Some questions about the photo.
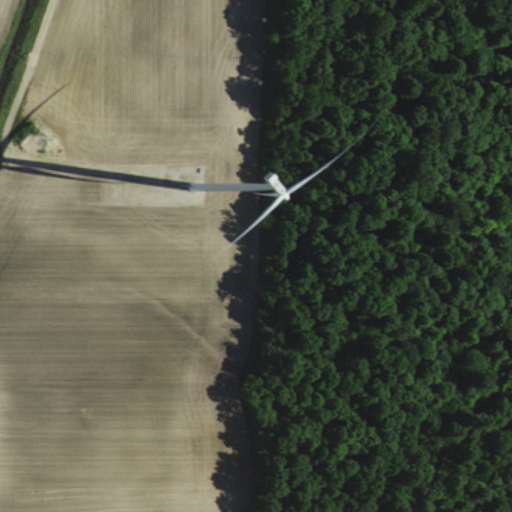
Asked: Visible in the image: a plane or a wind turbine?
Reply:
wind turbine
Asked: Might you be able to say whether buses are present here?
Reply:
No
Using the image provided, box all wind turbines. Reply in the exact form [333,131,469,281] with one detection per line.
[185,116,379,250]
